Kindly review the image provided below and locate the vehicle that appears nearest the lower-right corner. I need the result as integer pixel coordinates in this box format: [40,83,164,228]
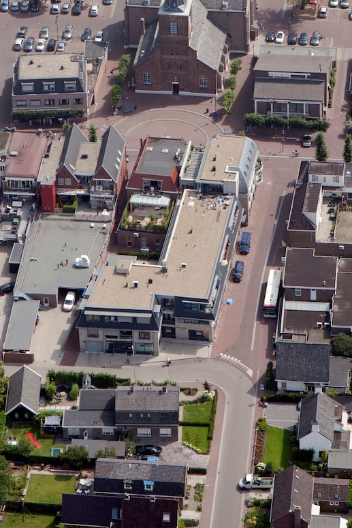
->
[238,474,274,491]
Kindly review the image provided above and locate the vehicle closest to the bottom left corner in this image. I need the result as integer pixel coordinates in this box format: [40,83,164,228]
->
[135,444,162,457]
